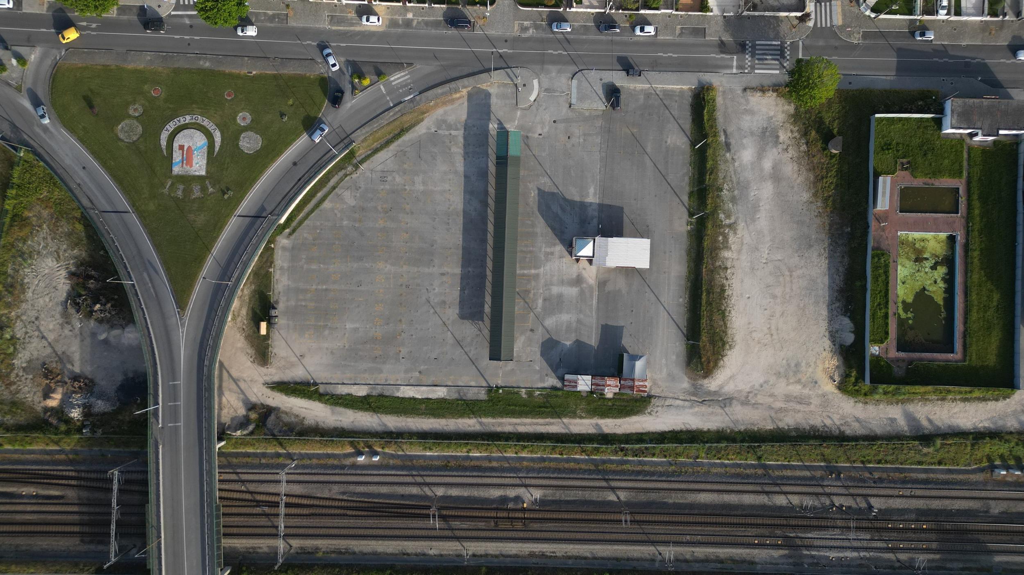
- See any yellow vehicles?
Yes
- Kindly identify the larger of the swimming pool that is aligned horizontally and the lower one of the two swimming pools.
the lower one of the two swimming pools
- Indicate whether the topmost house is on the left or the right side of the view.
right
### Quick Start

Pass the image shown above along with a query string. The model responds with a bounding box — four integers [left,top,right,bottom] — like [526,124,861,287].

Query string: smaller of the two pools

[898,185,960,214]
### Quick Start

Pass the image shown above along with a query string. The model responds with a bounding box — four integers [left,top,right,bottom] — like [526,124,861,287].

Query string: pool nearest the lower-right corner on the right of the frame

[896,233,957,354]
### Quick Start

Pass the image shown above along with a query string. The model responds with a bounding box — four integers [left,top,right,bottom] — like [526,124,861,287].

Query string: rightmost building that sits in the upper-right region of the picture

[934,99,1024,140]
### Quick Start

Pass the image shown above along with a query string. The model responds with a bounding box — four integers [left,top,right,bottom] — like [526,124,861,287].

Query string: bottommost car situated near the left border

[33,103,48,123]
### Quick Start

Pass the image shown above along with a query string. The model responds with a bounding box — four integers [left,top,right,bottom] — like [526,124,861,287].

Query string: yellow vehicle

[57,24,79,43]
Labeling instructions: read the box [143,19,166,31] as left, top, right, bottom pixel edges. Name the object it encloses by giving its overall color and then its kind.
black vehicle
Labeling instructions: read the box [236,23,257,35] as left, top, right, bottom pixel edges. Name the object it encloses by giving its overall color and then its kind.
white vehicle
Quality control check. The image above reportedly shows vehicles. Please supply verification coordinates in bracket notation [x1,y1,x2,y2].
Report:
[552,20,572,31]
[361,13,381,24]
[57,24,79,43]
[309,122,329,143]
[33,103,48,123]
[915,28,936,40]
[634,25,656,35]
[330,88,342,109]
[1016,49,1024,58]
[236,23,257,35]
[143,19,166,31]
[323,47,337,71]
[611,87,622,110]
[0,0,12,8]
[599,21,620,32]
[447,16,471,28]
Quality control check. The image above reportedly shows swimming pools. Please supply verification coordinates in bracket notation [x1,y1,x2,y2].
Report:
[896,233,957,354]
[898,185,960,214]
